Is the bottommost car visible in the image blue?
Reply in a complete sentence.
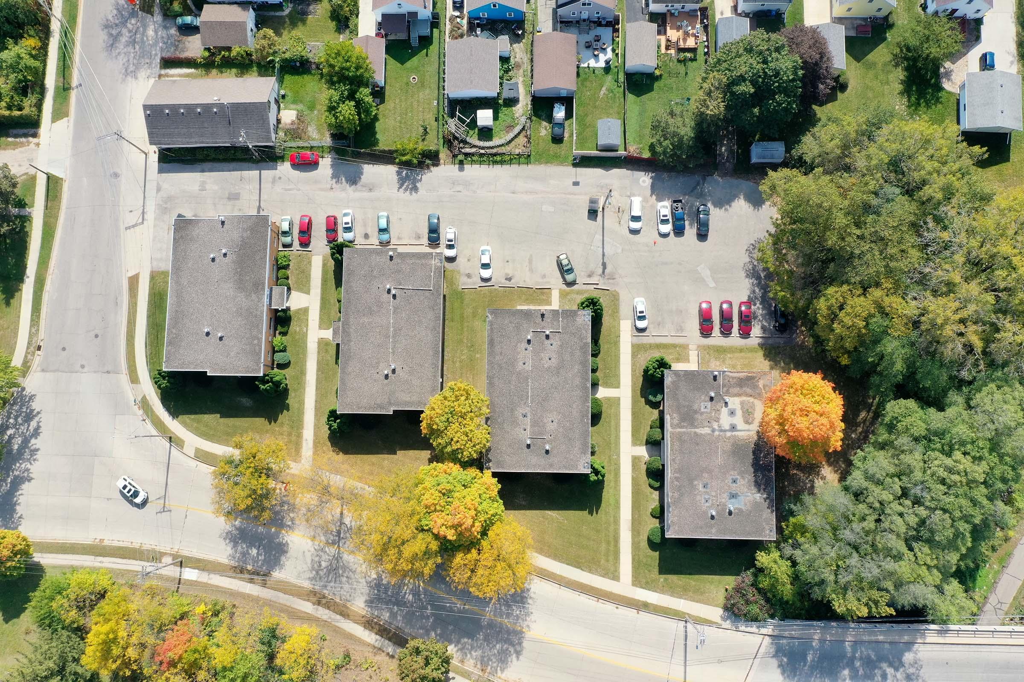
No, from above the bottommost car looks white.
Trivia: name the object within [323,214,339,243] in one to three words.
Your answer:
car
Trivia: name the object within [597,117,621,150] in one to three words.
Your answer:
shed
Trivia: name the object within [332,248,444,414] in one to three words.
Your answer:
building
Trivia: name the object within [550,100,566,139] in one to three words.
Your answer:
vehicle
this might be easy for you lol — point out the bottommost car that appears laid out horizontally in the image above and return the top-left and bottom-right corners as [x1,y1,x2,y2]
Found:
[288,150,321,166]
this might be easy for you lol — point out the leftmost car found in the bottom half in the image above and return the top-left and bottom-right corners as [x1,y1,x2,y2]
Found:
[114,476,148,505]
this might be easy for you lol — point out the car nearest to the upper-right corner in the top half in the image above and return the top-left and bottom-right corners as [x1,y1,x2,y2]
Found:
[979,47,997,70]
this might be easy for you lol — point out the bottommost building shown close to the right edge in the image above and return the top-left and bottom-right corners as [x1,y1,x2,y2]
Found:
[956,69,1023,136]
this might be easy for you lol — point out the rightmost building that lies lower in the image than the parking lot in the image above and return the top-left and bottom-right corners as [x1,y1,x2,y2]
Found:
[660,370,776,540]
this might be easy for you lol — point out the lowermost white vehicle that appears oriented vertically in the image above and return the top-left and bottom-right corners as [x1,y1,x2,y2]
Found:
[633,297,649,331]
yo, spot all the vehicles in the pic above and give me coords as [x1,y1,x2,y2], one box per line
[633,297,649,331]
[628,196,644,232]
[375,211,391,244]
[550,100,566,139]
[695,203,711,236]
[114,476,148,505]
[443,223,458,259]
[296,214,313,247]
[340,210,357,243]
[426,213,441,245]
[288,150,321,166]
[773,301,790,335]
[656,202,672,235]
[279,215,296,247]
[698,300,715,335]
[452,0,464,7]
[323,214,339,243]
[718,300,735,335]
[478,246,493,280]
[671,197,688,233]
[979,47,997,70]
[556,251,577,285]
[737,301,754,336]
